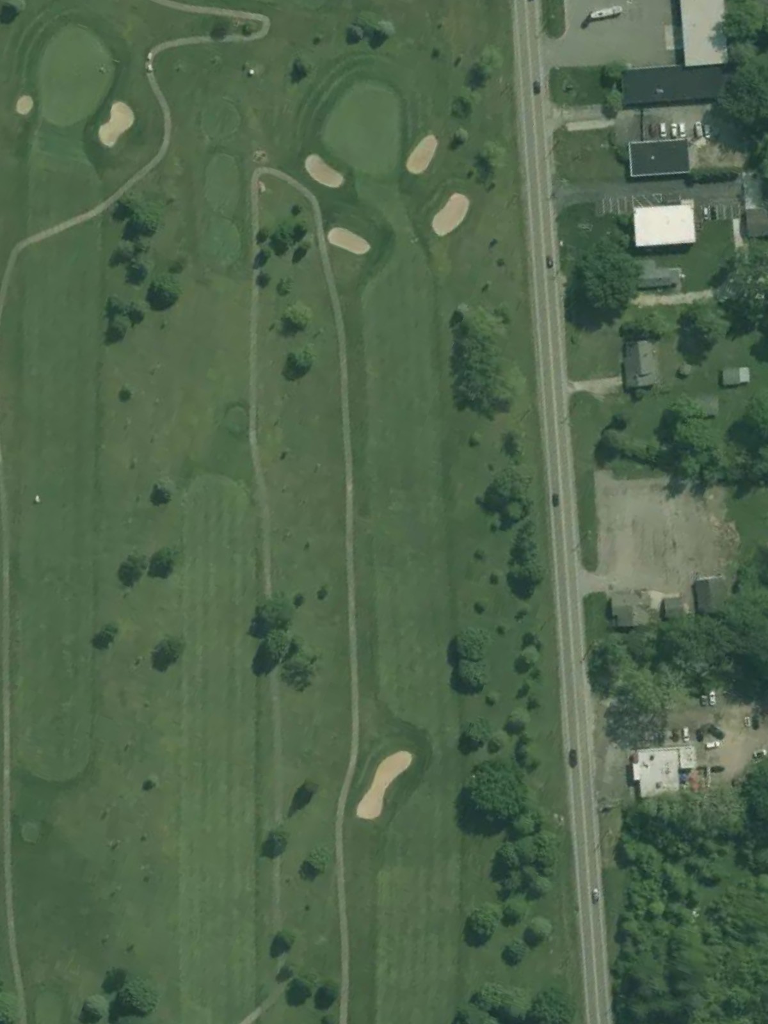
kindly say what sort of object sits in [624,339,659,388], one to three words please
house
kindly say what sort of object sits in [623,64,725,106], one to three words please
building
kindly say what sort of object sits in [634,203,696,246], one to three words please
building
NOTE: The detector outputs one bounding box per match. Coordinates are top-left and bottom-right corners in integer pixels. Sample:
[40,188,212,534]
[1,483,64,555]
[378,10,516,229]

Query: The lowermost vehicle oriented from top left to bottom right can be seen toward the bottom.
[708,725,725,738]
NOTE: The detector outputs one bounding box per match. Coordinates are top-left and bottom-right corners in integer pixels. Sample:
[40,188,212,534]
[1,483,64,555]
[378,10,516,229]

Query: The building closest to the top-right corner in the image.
[682,0,727,66]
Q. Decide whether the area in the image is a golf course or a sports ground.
golf course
